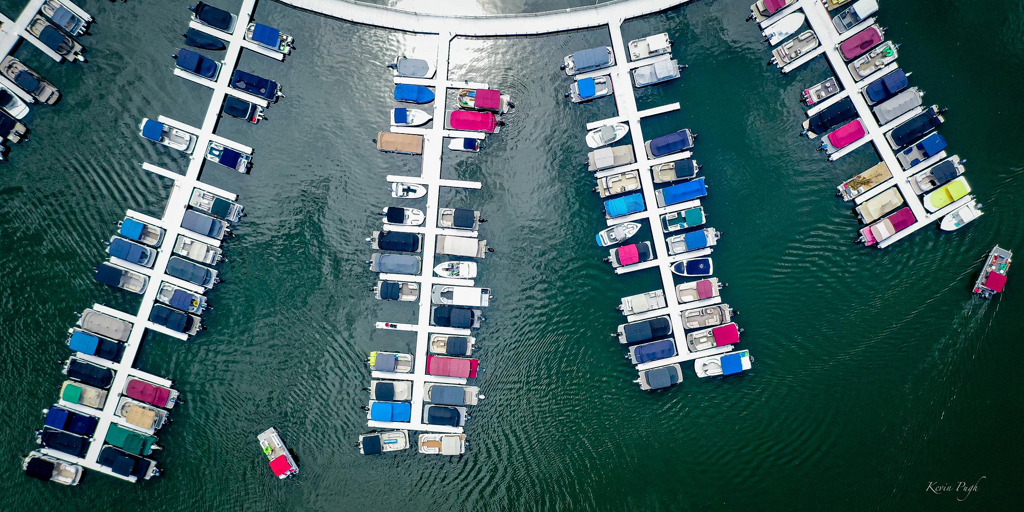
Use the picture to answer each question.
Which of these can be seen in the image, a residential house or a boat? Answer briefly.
boat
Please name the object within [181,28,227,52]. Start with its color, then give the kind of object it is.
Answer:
black boat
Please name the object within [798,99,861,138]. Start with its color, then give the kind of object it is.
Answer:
black boat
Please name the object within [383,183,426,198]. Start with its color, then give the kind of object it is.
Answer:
white boat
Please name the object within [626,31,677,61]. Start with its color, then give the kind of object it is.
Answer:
white boat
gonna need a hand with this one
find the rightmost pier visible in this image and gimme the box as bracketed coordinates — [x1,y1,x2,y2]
[757,0,974,250]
